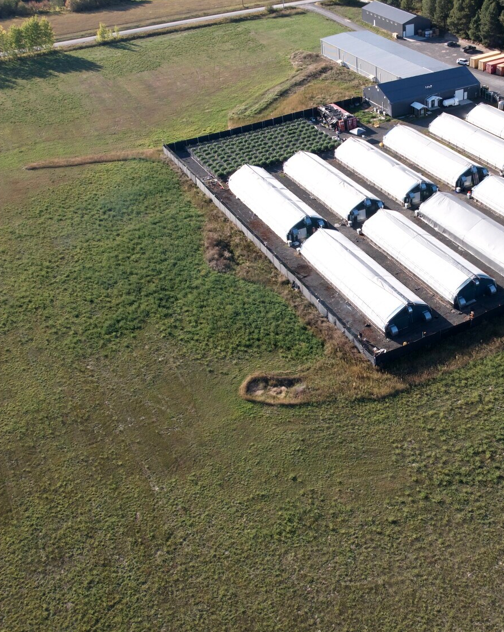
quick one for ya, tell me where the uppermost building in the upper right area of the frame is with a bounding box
[361,0,430,40]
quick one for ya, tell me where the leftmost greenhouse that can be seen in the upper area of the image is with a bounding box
[227,158,327,242]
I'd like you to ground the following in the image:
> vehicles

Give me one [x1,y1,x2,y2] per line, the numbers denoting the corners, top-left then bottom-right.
[455,56,465,65]
[460,43,478,52]
[445,39,460,45]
